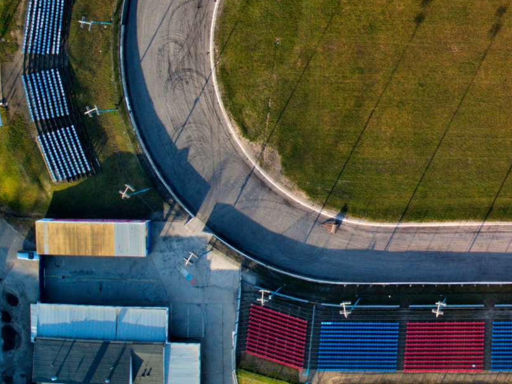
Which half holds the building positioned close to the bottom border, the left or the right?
left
